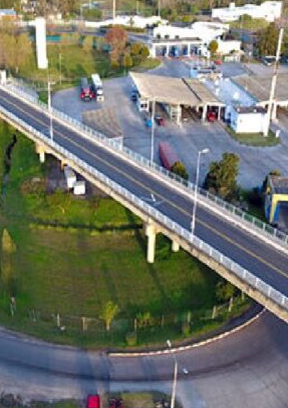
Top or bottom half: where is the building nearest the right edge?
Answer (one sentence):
The building nearest the right edge is in the top half of the image.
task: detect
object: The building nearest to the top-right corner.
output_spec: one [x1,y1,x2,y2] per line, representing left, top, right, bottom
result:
[263,0,286,23]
